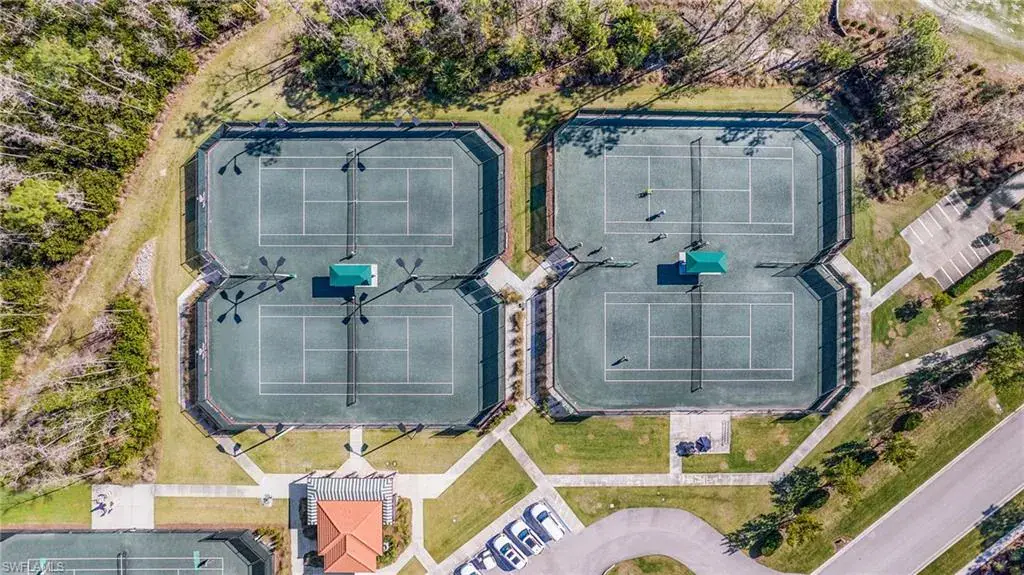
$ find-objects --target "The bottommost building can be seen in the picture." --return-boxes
[317,500,383,574]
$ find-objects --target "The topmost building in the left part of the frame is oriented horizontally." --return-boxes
[329,264,378,287]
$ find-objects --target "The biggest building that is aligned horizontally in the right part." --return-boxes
[679,251,728,275]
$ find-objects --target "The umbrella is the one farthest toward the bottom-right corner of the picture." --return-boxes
[695,436,710,451]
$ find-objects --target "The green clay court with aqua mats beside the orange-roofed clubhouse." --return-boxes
[0,528,275,575]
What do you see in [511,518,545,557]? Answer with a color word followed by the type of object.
white car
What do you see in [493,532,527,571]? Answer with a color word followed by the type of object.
white car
